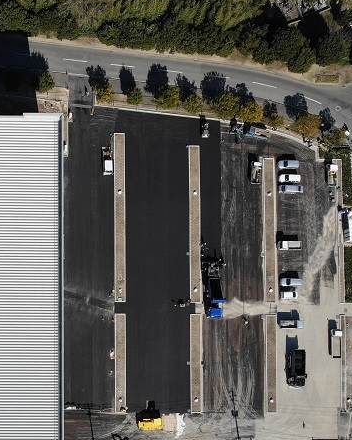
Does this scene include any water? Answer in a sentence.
No, water can't be seen anywhere here.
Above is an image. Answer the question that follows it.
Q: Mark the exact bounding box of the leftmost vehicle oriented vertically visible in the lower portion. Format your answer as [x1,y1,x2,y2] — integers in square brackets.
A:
[207,277,224,317]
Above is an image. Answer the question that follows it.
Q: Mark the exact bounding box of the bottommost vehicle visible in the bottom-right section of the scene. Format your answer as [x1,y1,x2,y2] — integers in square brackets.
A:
[287,349,304,387]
